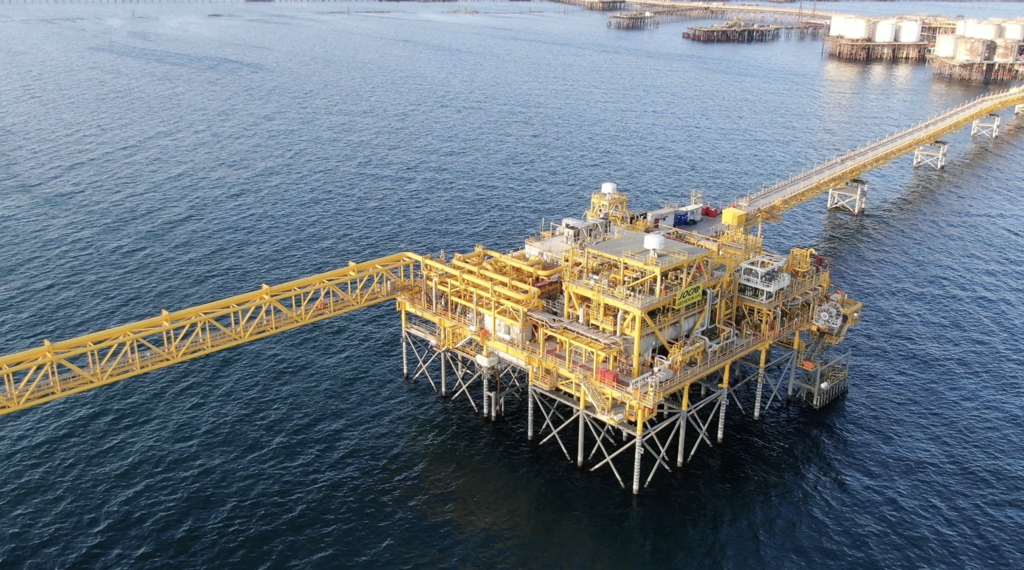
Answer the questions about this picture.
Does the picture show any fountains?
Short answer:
No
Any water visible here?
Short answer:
Yes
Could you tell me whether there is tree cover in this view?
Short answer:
No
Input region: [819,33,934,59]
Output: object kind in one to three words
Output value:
pier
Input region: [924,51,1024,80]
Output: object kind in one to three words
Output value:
pier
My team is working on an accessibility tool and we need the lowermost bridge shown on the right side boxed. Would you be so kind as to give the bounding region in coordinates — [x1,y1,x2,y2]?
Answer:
[729,85,1024,216]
